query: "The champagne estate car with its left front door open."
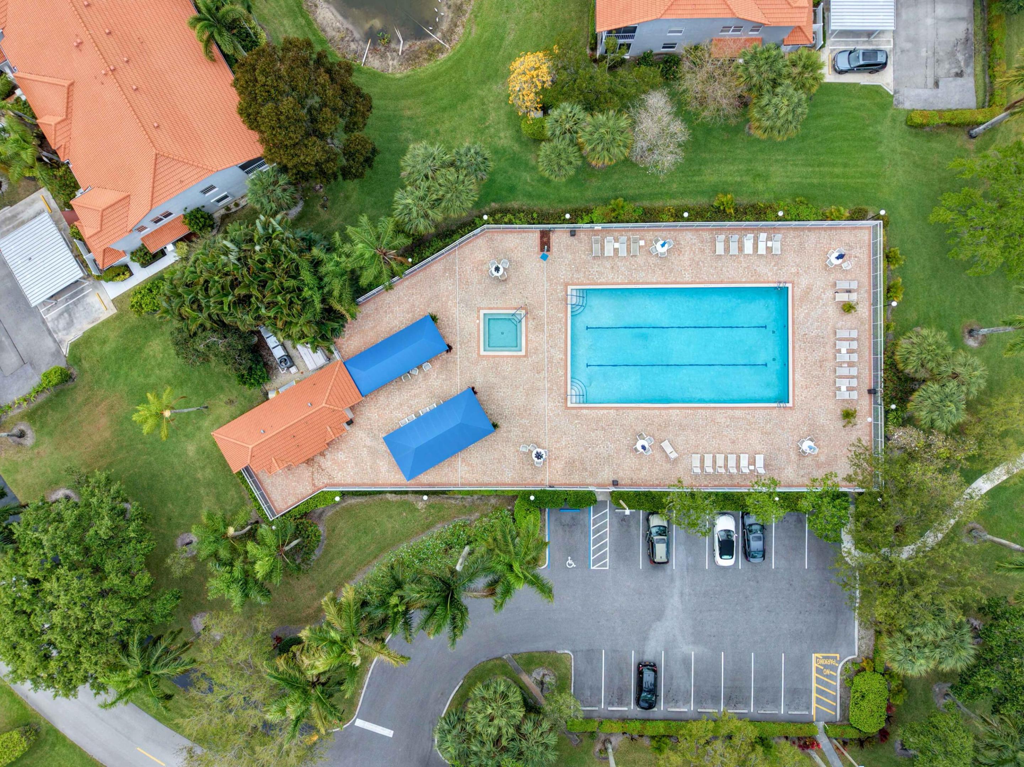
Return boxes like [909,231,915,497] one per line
[639,514,672,566]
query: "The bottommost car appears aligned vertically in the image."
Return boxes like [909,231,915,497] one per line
[636,662,659,710]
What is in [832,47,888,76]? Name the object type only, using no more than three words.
car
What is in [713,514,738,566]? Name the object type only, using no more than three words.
car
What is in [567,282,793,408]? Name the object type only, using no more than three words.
swimming pool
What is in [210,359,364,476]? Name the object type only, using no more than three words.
building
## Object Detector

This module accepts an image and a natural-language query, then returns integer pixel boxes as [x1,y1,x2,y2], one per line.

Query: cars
[639,514,672,566]
[713,514,738,566]
[832,47,888,76]
[636,662,659,710]
[742,513,768,564]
